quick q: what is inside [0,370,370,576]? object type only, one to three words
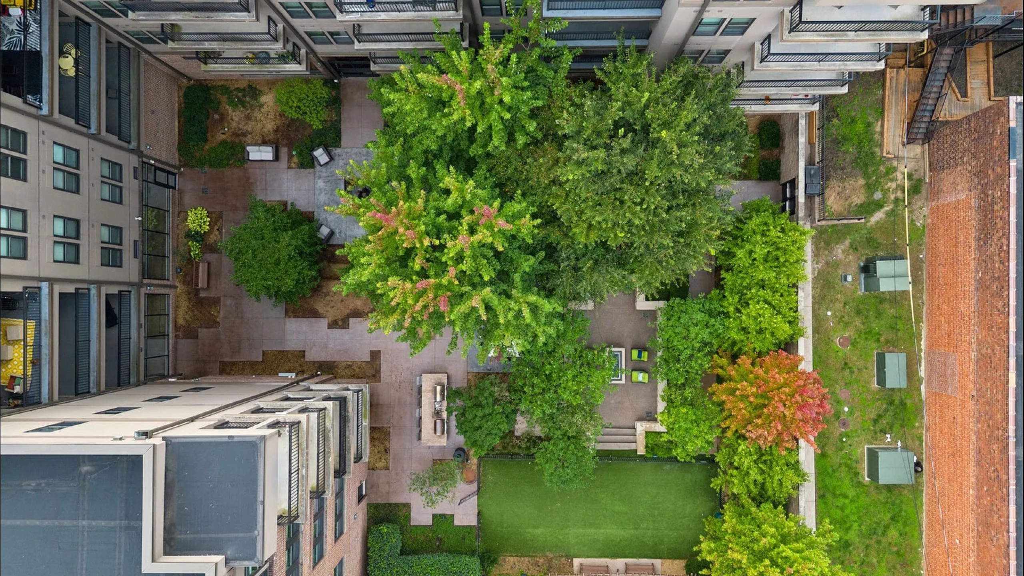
building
